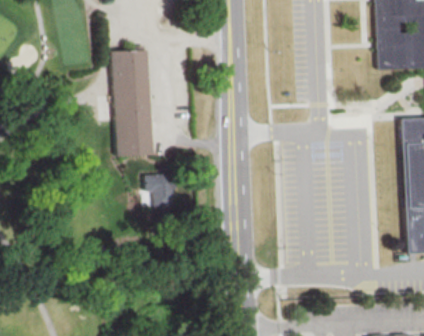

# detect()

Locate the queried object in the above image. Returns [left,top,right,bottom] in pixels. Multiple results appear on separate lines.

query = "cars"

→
[224,118,229,129]
[179,114,190,120]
